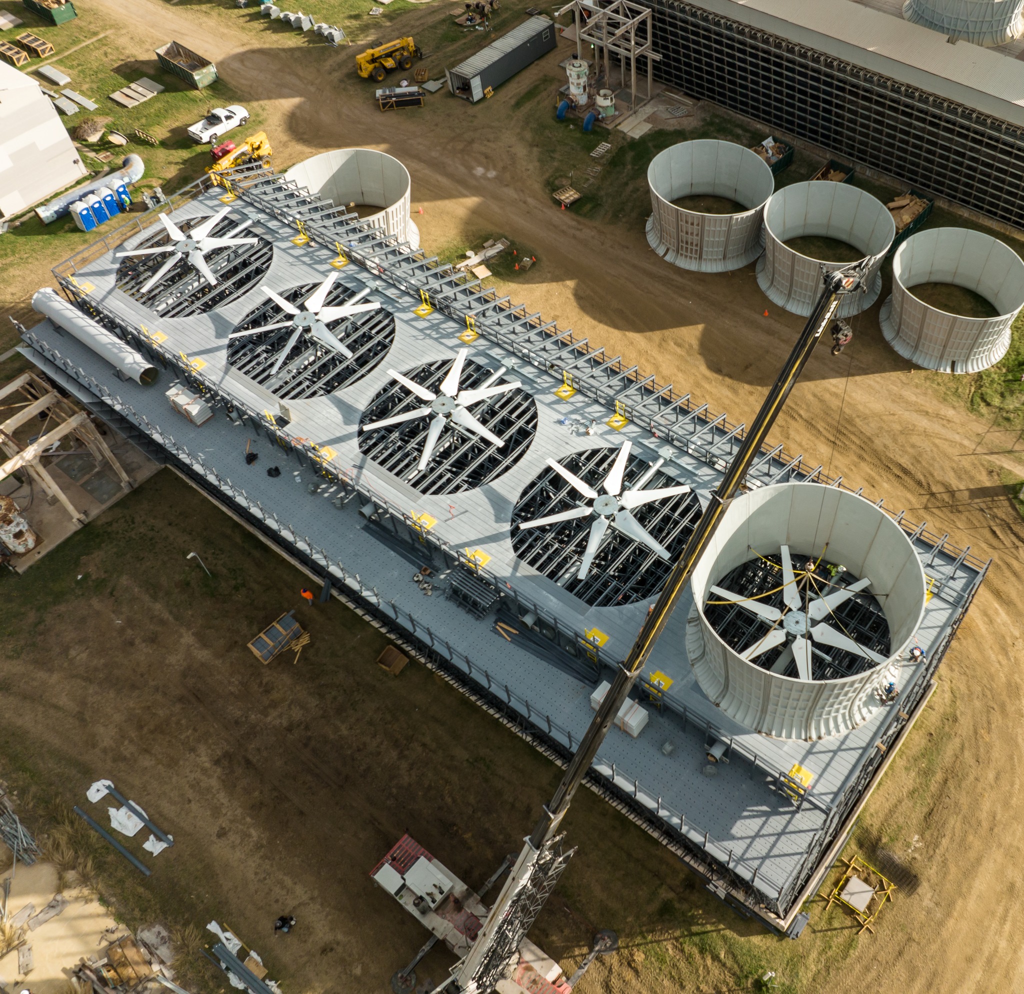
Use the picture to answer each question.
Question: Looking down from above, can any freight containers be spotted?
Yes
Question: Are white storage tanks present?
No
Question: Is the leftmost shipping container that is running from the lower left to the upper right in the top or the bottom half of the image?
top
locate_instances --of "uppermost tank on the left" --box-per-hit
[203,132,239,164]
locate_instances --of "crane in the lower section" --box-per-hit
[362,258,871,994]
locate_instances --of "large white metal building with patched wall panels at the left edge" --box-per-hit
[0,56,88,219]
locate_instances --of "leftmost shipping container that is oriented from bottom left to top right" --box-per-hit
[444,14,557,102]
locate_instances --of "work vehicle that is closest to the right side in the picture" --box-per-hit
[345,38,425,83]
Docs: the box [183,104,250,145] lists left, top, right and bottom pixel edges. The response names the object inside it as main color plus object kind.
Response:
white truck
